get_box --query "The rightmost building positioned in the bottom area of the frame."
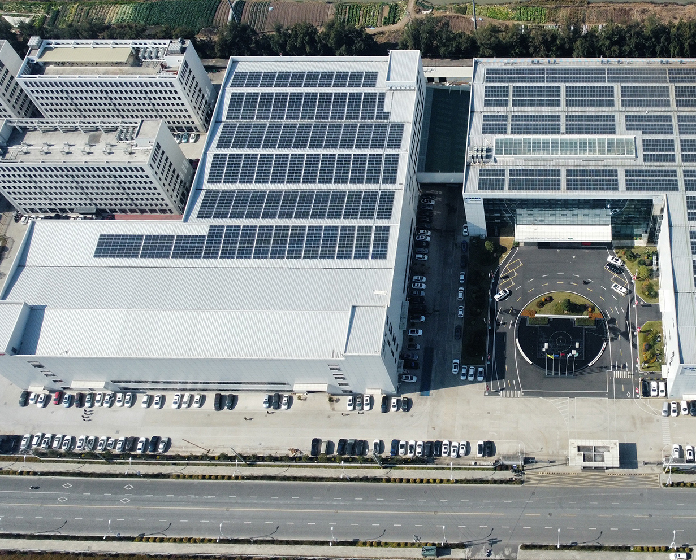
[569,439,619,470]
